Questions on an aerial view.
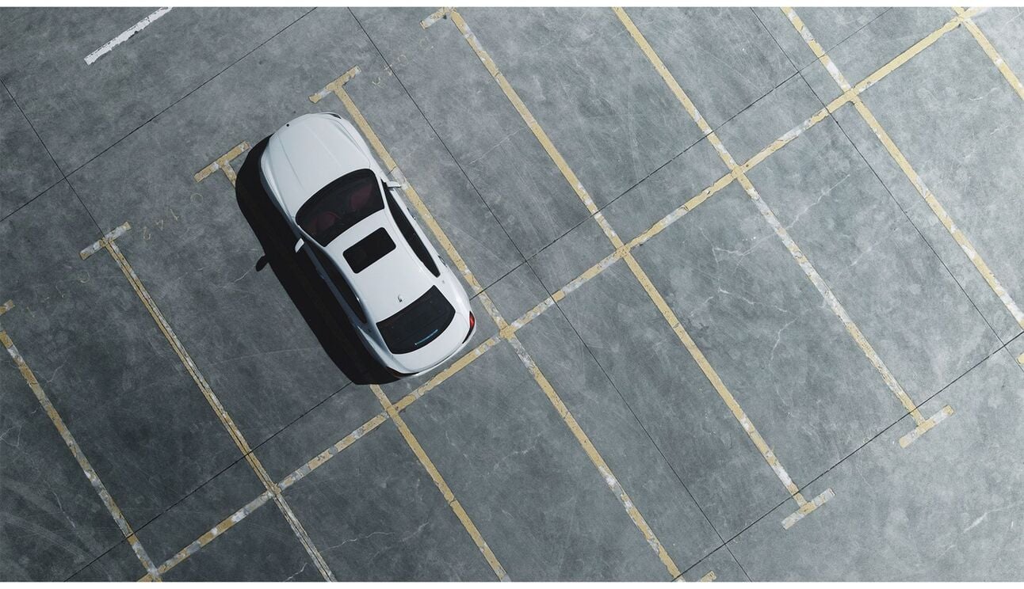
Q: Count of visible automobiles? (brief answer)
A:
1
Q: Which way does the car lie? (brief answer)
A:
on a diagonal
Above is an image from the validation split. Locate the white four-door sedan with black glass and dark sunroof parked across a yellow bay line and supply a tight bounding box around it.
[259,109,476,377]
